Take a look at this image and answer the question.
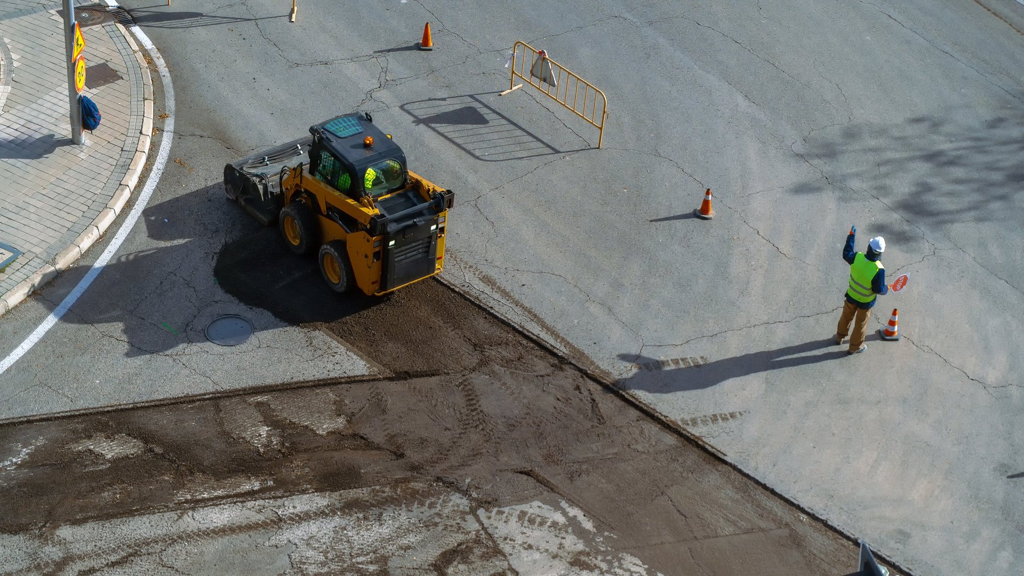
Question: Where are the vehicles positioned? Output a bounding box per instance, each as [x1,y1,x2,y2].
[224,110,454,299]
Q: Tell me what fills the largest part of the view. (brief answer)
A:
paved ground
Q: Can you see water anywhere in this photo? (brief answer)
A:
No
